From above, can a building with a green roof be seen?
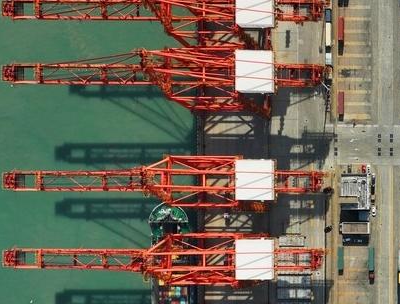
No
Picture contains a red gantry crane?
Yes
